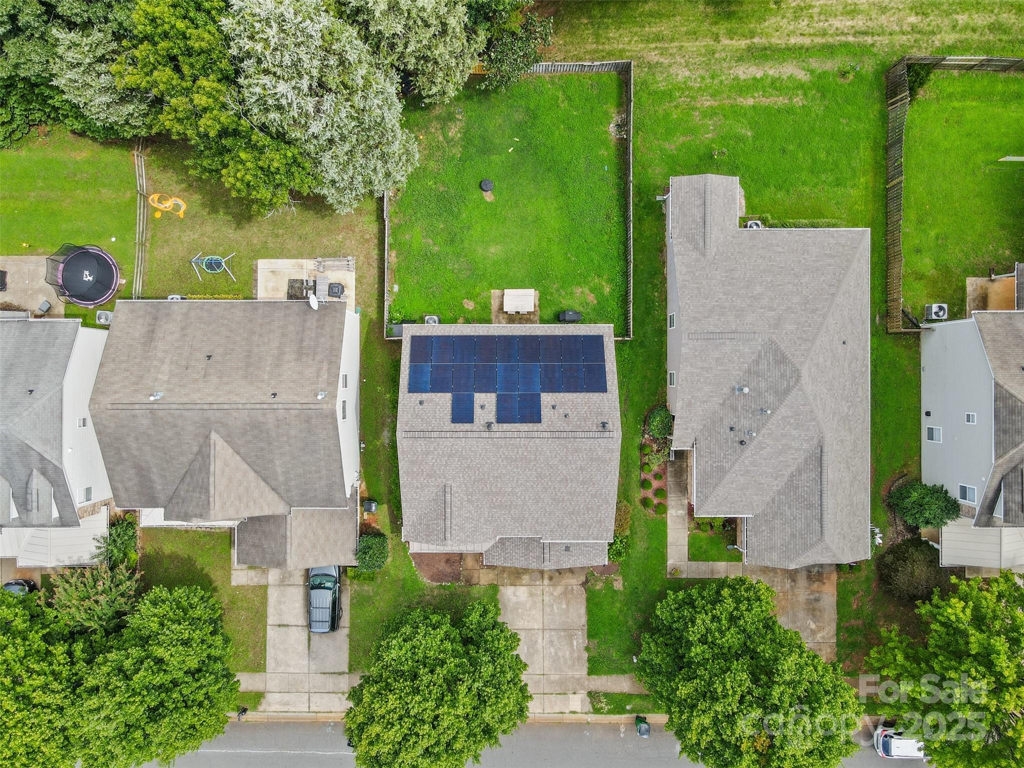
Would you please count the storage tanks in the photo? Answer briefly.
0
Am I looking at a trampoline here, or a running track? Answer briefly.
trampoline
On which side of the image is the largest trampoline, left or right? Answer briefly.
left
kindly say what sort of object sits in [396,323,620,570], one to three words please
house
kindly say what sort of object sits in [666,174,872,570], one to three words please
house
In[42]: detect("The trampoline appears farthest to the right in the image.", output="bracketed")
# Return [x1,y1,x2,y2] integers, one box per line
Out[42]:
[204,257,225,274]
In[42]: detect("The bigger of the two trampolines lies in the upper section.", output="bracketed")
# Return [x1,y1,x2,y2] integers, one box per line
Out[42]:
[45,241,134,313]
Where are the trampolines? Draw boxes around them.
[204,257,225,274]
[45,241,134,313]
